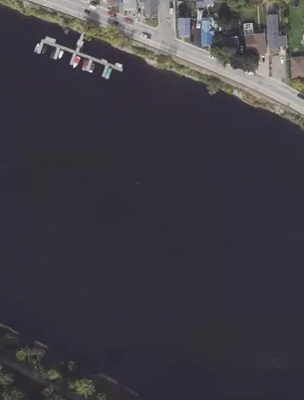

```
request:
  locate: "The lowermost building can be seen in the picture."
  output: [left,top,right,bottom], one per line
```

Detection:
[290,55,304,79]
